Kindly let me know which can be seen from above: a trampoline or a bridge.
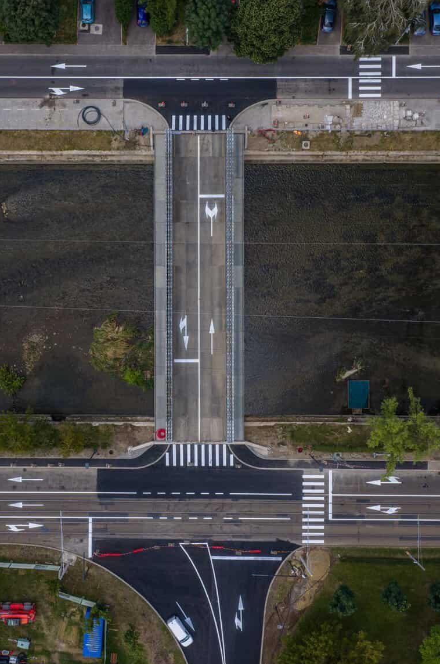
bridge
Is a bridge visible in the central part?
Yes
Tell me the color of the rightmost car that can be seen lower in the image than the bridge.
white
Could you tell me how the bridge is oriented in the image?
from top to bottom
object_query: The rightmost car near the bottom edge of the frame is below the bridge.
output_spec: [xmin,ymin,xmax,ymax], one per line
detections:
[168,614,192,648]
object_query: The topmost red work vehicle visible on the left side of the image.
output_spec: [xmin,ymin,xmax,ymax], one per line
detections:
[0,604,34,628]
